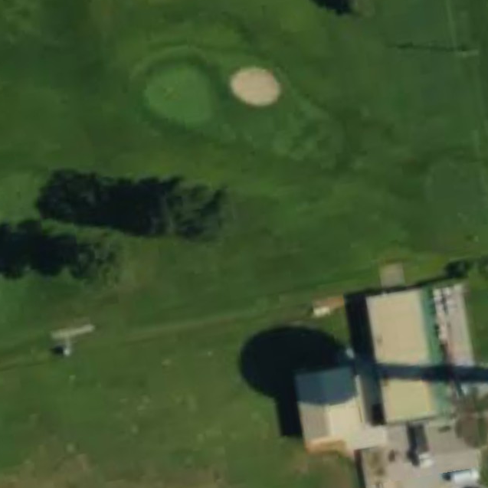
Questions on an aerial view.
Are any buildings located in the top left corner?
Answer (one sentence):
No, no building is visible in the top left corner.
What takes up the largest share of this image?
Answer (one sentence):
The largest share of the image is taken up by grass.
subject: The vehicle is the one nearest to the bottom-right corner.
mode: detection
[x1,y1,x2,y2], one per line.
[449,468,481,483]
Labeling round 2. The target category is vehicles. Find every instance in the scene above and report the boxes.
[415,427,433,465]
[449,468,481,483]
